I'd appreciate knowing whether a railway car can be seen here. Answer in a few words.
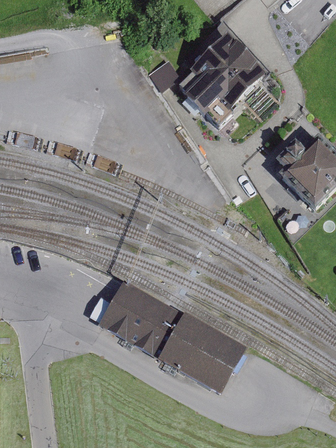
Yes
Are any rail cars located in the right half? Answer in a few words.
No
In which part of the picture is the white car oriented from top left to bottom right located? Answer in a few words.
right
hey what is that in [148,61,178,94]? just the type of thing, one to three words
shed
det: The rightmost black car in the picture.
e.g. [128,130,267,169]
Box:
[28,250,41,274]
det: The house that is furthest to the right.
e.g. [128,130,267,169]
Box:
[276,134,336,212]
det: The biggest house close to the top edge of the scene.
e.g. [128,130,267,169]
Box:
[179,22,266,130]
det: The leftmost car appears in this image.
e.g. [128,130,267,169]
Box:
[11,246,24,267]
